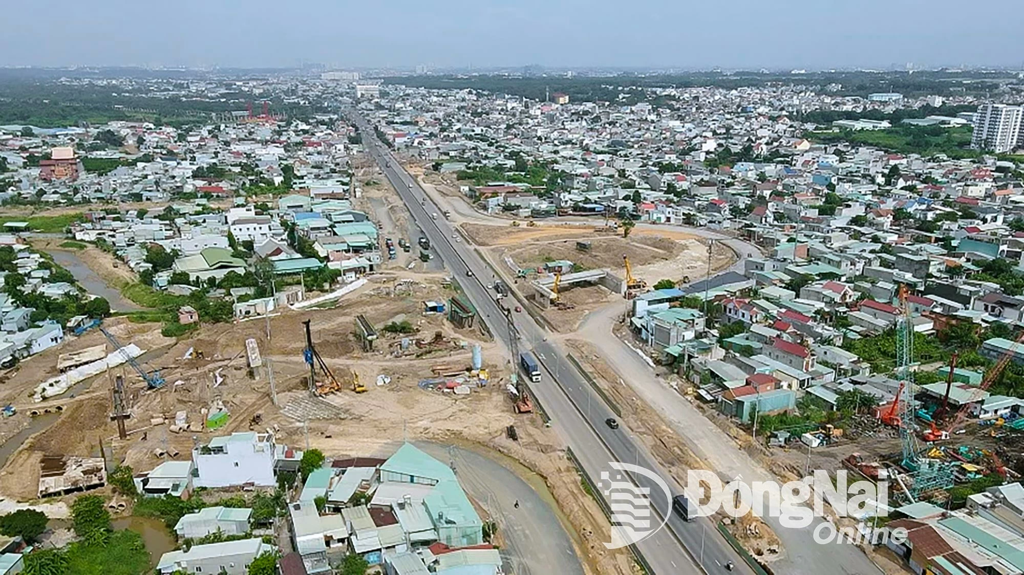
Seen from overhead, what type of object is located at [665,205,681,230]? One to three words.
house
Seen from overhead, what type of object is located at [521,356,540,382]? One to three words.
vehicle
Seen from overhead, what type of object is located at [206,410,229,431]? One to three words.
shed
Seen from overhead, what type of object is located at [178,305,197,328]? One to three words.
house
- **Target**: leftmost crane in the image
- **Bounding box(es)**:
[99,326,169,389]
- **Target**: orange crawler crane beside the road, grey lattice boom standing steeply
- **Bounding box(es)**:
[497,299,541,415]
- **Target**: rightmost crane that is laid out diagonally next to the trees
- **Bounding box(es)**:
[924,333,1024,447]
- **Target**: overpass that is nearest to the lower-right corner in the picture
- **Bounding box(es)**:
[530,266,629,310]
